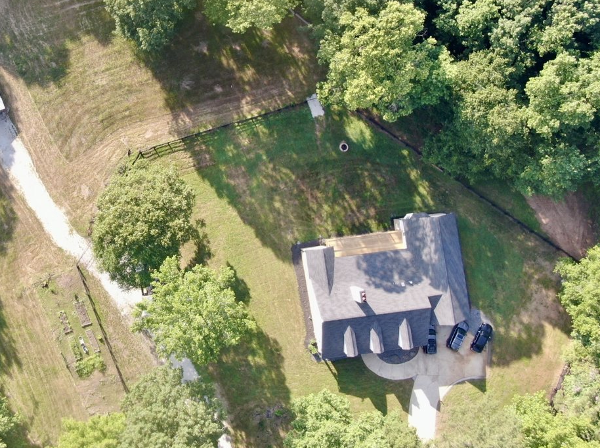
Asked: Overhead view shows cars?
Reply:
Yes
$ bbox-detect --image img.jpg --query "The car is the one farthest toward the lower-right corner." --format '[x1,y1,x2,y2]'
[471,323,492,354]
